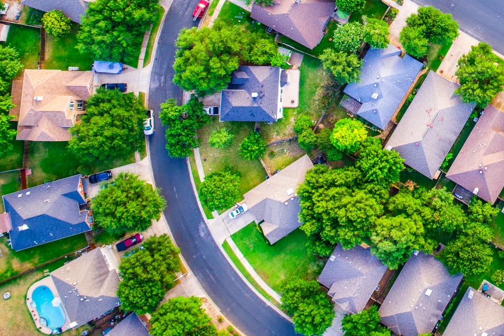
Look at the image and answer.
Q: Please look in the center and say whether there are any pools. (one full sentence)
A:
No, no pool appears in the center.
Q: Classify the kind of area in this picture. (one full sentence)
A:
It's a residential area.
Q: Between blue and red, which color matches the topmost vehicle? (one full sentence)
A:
In this view, the topmost vehicle is red.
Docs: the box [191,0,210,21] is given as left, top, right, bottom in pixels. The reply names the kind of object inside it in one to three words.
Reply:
vehicle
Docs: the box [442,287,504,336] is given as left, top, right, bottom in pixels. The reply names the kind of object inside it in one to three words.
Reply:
house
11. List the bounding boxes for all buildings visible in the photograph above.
[317,244,388,313]
[382,71,477,176]
[49,247,125,327]
[219,66,285,121]
[96,318,151,336]
[22,0,112,25]
[442,287,504,336]
[10,70,102,143]
[446,104,504,204]
[341,38,424,130]
[0,174,98,252]
[242,155,313,245]
[251,0,337,50]
[381,254,460,336]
